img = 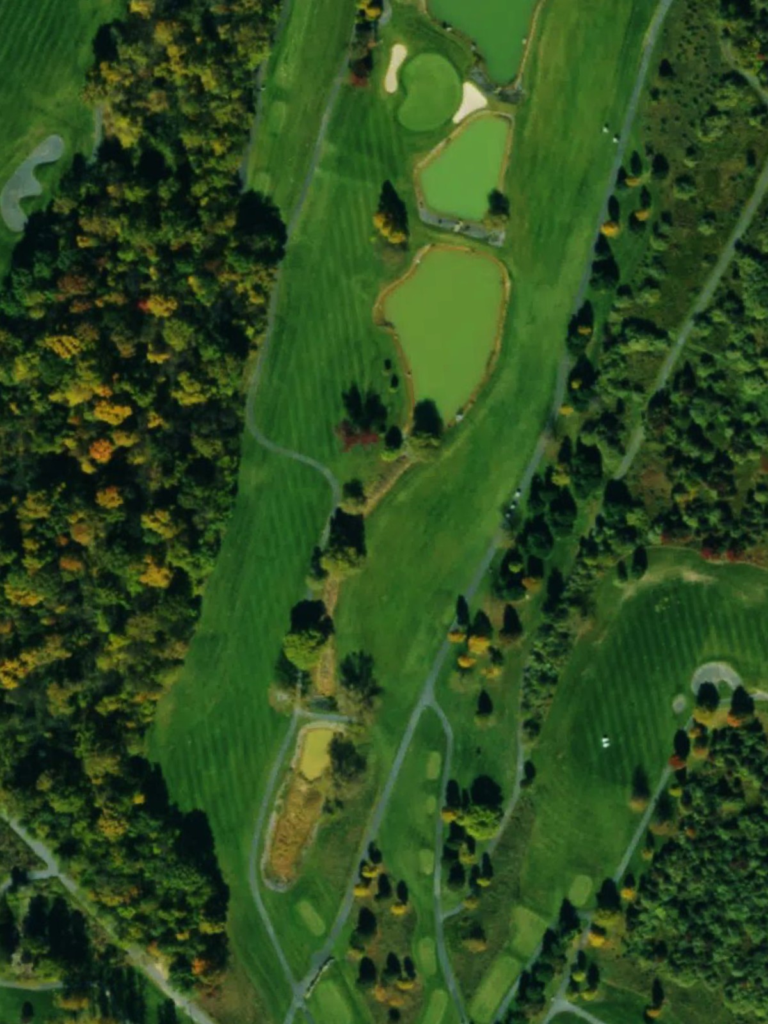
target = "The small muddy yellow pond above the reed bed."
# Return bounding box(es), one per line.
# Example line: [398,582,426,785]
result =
[294,722,344,785]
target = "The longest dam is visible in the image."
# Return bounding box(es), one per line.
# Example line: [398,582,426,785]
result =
[415,208,507,248]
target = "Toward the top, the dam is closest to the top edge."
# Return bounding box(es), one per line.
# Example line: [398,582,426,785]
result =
[471,65,525,103]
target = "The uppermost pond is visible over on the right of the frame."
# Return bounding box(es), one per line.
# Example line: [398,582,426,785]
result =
[422,0,545,89]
